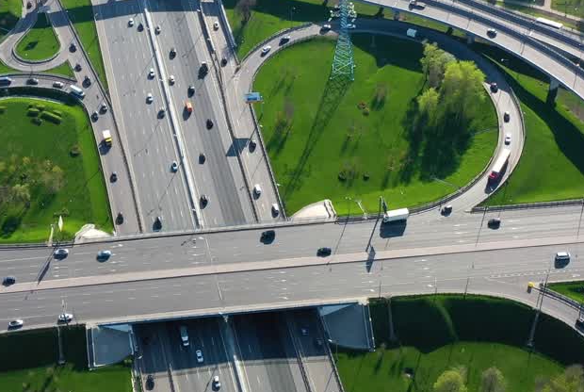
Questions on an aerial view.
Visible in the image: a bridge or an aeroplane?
bridge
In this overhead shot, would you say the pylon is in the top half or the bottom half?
top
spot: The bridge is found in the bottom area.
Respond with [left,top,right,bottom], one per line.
[85,214,377,327]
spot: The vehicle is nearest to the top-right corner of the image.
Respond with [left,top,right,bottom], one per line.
[535,14,564,32]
